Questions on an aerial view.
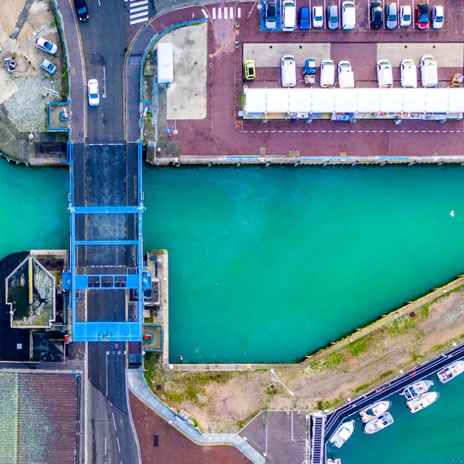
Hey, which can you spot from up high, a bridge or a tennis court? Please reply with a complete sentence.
Looking from above, you can make out a bridge.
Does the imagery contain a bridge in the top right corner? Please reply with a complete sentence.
No, no bridge can be made out in the top right corner.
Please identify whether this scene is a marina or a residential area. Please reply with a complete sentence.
The picture captures a marina.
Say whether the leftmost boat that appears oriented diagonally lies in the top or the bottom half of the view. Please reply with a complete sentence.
You can find the leftmost boat that appears oriented diagonally in the bottom half.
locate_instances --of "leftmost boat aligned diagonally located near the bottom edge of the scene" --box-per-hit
[329,421,355,447]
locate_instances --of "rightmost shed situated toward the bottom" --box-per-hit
[145,278,160,305]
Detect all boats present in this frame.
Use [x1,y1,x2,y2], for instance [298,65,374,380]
[357,401,393,422]
[401,381,434,400]
[364,410,395,432]
[435,362,464,383]
[329,421,355,447]
[326,455,341,464]
[403,391,439,413]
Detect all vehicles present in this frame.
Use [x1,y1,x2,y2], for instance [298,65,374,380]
[398,4,412,27]
[451,74,464,84]
[265,2,277,30]
[341,1,356,31]
[420,54,438,87]
[370,0,384,29]
[298,5,311,31]
[326,4,340,30]
[311,5,324,28]
[385,2,399,30]
[338,60,356,87]
[320,59,336,87]
[37,58,59,76]
[304,58,316,82]
[281,54,297,87]
[400,59,418,87]
[243,59,256,81]
[377,59,396,87]
[282,0,297,32]
[416,2,430,30]
[431,4,445,30]
[87,79,100,108]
